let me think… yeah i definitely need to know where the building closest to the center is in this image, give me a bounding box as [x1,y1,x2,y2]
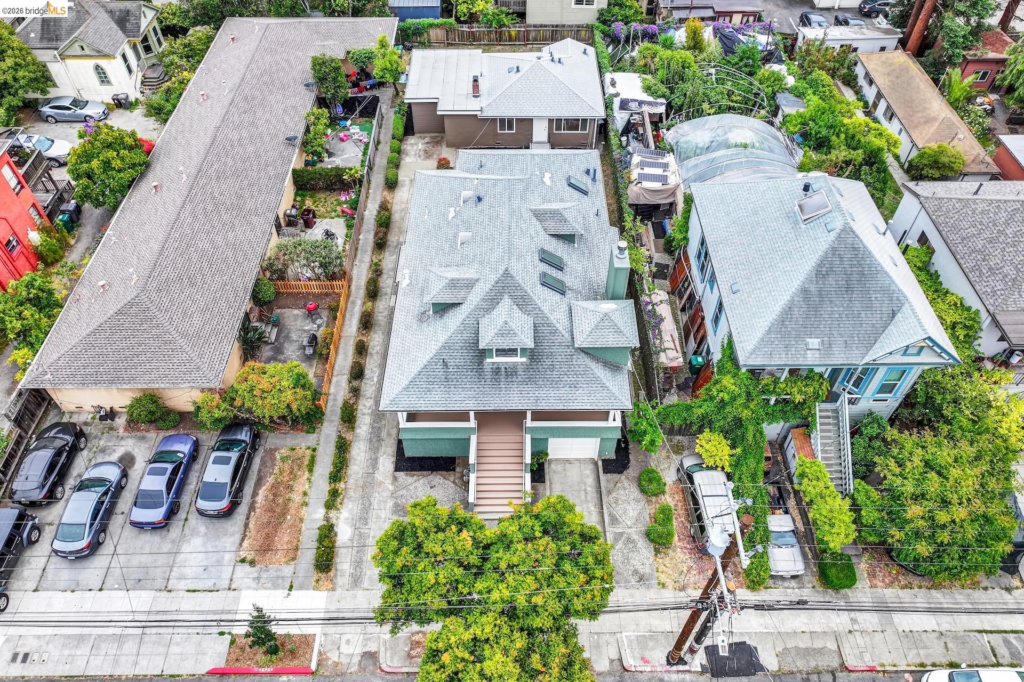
[377,152,642,519]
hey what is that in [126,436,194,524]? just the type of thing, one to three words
car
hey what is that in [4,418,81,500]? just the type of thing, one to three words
car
